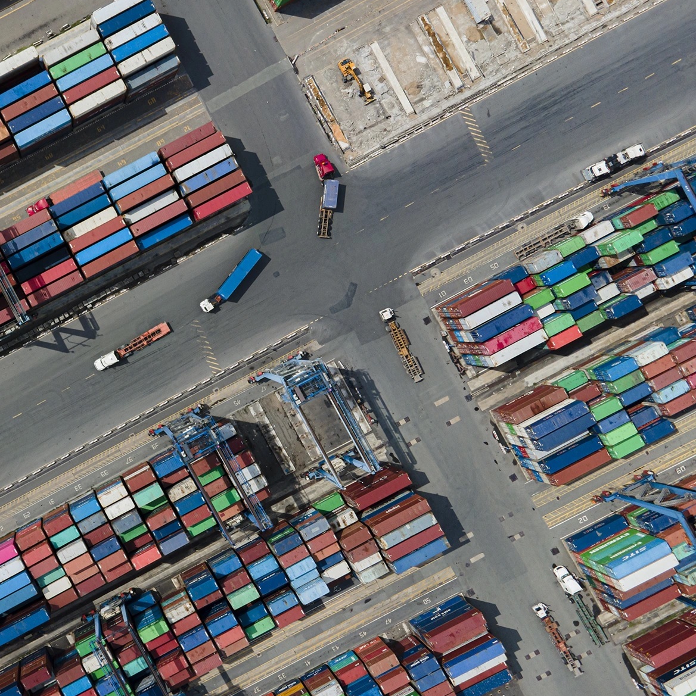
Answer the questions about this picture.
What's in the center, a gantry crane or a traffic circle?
gantry crane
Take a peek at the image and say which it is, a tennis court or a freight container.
freight container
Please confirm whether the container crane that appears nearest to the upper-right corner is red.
No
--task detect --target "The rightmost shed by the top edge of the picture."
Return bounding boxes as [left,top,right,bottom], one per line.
[460,0,493,25]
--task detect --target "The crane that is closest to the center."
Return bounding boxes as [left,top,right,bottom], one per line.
[247,349,389,495]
